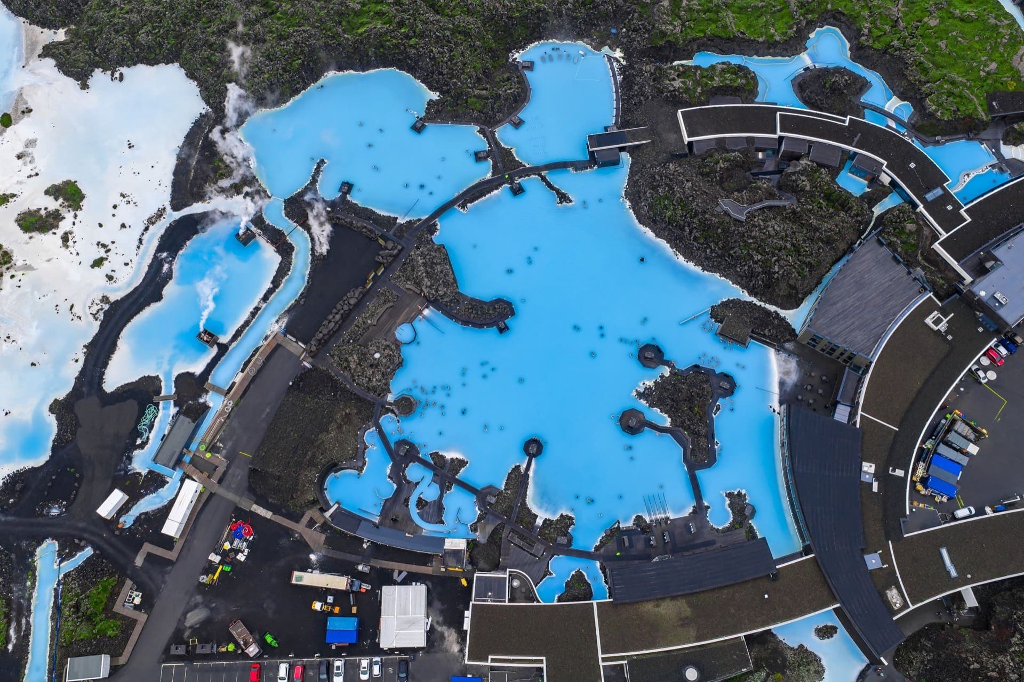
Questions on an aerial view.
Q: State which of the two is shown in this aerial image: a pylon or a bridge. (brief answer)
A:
bridge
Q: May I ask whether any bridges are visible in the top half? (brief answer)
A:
Yes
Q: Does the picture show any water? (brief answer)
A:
Yes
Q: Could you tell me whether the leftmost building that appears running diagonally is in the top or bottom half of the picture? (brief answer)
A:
bottom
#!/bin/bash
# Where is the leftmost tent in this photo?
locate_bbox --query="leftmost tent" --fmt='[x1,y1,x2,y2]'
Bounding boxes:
[326,618,360,646]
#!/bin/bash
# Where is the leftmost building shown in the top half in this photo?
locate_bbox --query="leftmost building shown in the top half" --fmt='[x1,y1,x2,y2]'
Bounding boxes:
[586,126,651,166]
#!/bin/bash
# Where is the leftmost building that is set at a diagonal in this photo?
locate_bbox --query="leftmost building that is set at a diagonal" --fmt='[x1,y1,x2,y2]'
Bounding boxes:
[96,489,127,518]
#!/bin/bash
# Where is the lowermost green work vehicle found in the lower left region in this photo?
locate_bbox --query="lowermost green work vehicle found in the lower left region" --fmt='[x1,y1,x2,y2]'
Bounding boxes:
[264,632,279,649]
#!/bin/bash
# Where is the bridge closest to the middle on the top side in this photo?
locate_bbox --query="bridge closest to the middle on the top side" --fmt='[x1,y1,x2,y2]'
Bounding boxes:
[414,159,593,233]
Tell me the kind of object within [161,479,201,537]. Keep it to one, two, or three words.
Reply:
building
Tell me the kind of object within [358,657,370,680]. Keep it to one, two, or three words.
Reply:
vehicle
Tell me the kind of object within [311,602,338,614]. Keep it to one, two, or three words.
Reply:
vehicle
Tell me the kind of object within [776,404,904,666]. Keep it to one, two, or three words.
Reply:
building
